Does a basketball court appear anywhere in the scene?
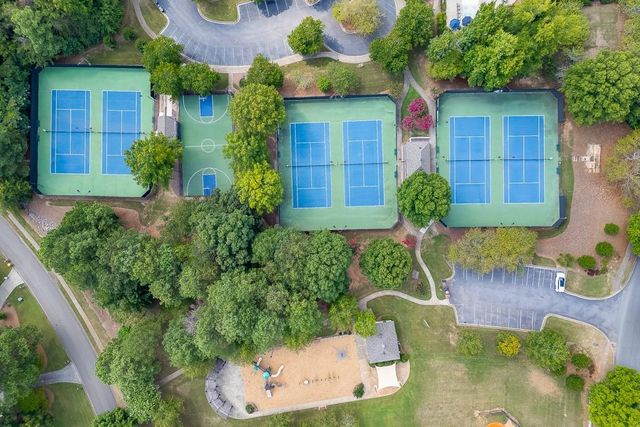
Yes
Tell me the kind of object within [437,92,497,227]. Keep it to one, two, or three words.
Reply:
tennis court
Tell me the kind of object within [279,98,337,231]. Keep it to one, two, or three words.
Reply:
tennis court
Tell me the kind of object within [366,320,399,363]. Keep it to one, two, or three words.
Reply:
building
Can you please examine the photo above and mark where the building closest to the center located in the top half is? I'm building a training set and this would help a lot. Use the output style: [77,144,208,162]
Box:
[406,142,431,176]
